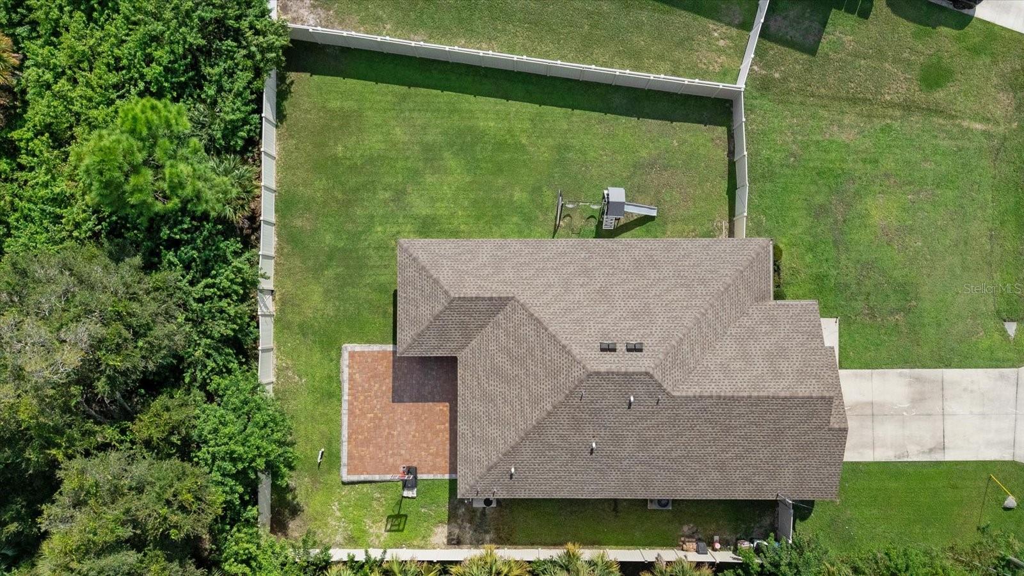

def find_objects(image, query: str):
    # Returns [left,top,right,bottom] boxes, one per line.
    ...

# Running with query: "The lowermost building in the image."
[396,237,852,500]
